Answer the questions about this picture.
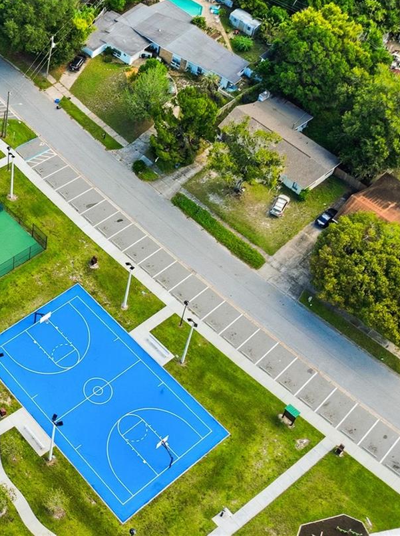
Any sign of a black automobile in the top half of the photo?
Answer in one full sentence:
Yes, I can see a black automobile in the top half of the photo.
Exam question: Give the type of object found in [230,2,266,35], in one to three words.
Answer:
shed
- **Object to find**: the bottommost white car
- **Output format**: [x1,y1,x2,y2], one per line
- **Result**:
[269,193,290,218]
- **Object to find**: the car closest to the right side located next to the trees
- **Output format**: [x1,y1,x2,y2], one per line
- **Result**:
[315,204,340,229]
